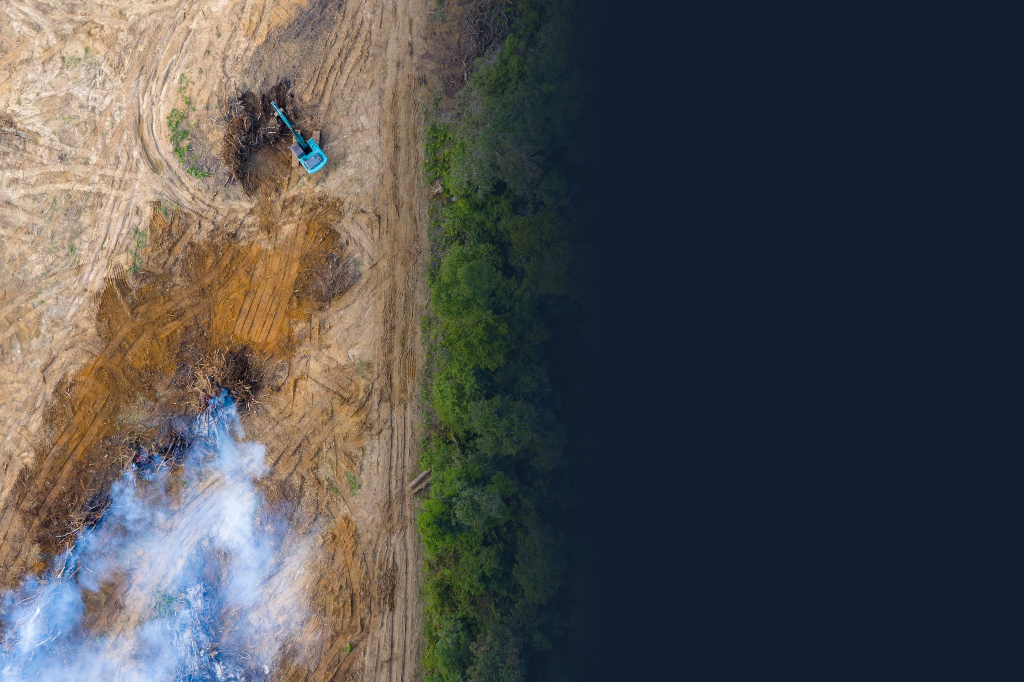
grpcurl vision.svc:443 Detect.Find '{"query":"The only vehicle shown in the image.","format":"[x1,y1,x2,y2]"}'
[265,98,330,175]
